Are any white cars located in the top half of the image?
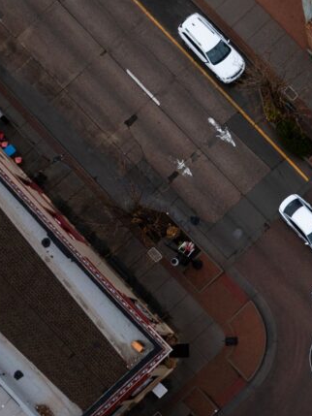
Yes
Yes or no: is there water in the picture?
No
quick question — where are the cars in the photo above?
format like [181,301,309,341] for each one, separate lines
[178,12,247,86]
[280,192,312,250]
